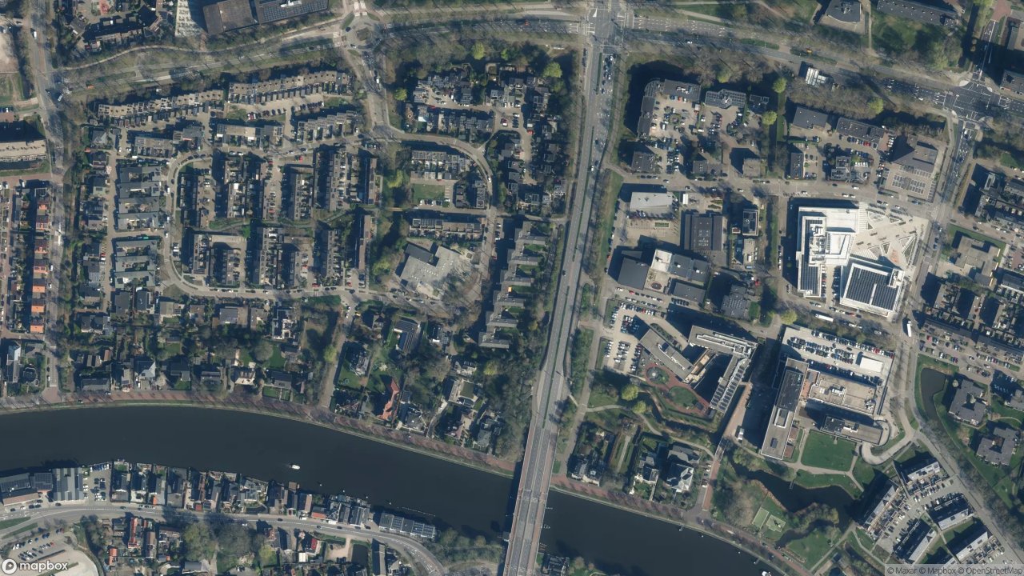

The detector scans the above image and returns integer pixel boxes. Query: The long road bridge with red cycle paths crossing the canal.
[503,470,555,576]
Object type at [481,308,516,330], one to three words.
house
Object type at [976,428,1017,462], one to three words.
building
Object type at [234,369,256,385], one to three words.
house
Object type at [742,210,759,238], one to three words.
building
